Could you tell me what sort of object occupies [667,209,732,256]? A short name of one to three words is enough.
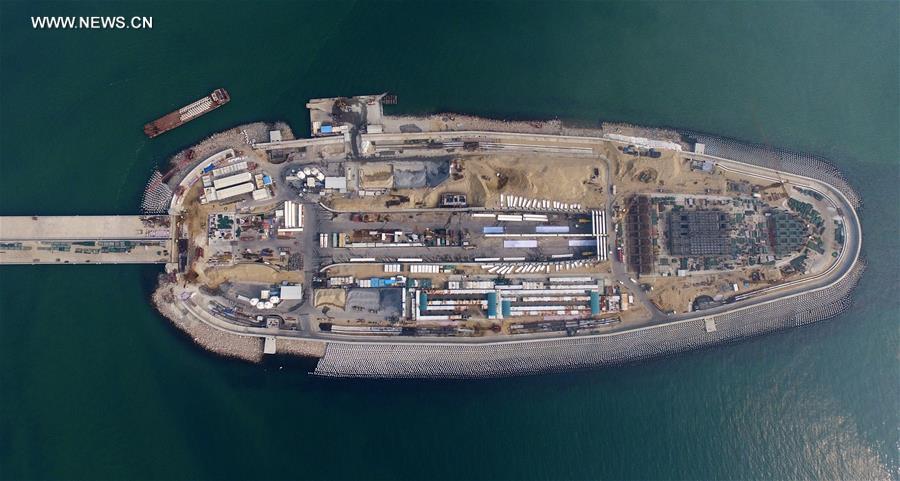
building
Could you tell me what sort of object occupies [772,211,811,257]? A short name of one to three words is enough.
building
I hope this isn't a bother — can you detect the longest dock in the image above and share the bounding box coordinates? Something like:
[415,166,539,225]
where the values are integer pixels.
[305,95,383,139]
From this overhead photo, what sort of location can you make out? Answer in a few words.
port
